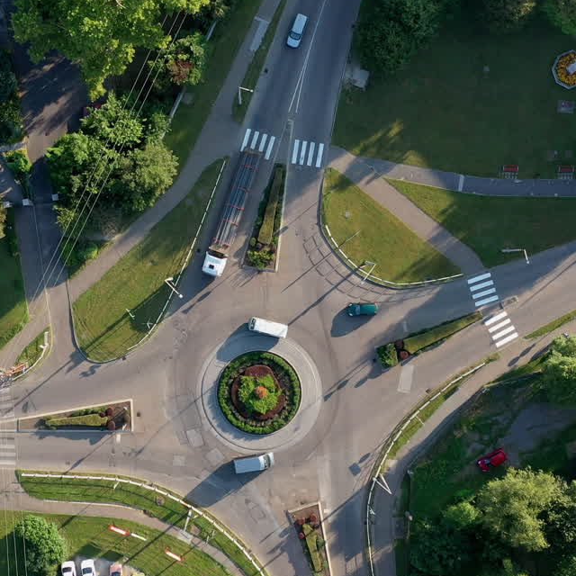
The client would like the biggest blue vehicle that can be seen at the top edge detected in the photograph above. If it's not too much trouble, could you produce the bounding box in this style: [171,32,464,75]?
[286,14,308,50]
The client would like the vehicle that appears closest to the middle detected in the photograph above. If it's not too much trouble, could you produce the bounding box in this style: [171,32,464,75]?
[249,315,289,339]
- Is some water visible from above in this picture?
No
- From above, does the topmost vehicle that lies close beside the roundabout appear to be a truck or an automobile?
truck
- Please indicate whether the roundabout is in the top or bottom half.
bottom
